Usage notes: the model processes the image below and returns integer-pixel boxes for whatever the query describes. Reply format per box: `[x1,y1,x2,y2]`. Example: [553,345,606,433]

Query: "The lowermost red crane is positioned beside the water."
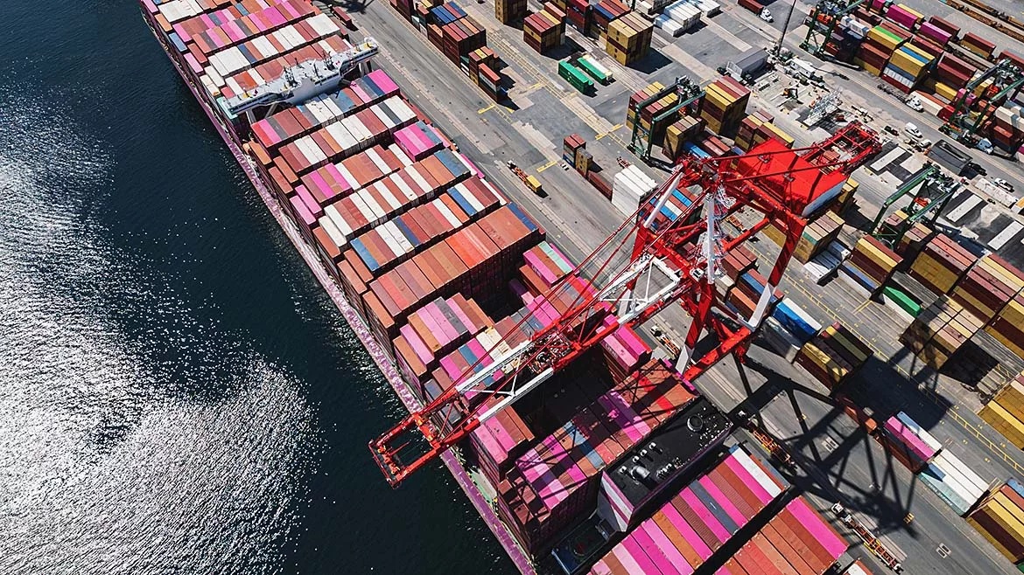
[356,118,891,490]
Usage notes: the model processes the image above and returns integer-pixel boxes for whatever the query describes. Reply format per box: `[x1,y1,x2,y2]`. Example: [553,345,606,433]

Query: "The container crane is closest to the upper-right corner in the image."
[939,64,1024,143]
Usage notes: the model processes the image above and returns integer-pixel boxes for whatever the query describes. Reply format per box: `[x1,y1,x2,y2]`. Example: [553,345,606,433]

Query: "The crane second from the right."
[860,169,960,249]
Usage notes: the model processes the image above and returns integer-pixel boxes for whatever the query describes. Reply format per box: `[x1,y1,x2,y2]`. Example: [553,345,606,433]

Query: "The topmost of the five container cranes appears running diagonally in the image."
[801,0,872,56]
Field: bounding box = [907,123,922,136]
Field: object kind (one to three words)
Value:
vehicle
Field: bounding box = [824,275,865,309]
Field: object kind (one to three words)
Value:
shipping container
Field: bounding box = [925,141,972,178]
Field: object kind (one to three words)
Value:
shed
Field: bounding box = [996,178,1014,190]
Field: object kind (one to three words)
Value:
vehicle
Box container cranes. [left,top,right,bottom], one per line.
[356,118,891,490]
[860,169,960,249]
[628,80,705,159]
[939,64,1024,143]
[801,0,872,56]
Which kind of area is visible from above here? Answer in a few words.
port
